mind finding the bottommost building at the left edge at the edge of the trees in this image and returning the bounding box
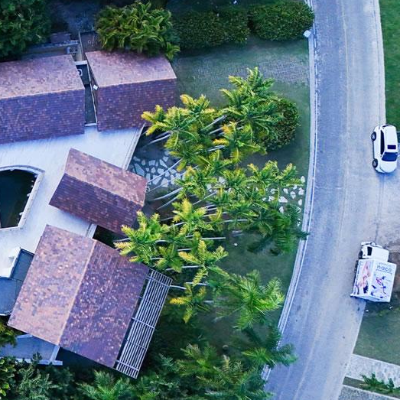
[8,226,149,368]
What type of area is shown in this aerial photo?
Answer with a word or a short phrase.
residential area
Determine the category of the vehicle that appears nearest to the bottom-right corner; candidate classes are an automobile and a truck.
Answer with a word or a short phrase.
truck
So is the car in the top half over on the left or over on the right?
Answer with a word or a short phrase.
right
